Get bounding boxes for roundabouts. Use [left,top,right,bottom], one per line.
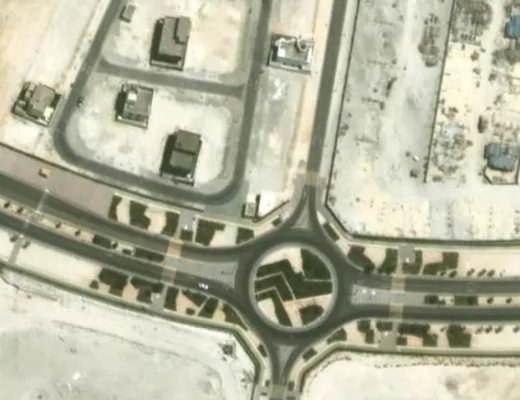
[210,186,390,384]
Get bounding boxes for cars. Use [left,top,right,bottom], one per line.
[77,97,84,107]
[199,283,209,289]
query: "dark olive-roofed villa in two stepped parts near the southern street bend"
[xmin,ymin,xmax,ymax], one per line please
[169,129,201,176]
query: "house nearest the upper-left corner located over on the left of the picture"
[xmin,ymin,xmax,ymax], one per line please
[19,83,55,117]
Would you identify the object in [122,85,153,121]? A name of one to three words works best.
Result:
house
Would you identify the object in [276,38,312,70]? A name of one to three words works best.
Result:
house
